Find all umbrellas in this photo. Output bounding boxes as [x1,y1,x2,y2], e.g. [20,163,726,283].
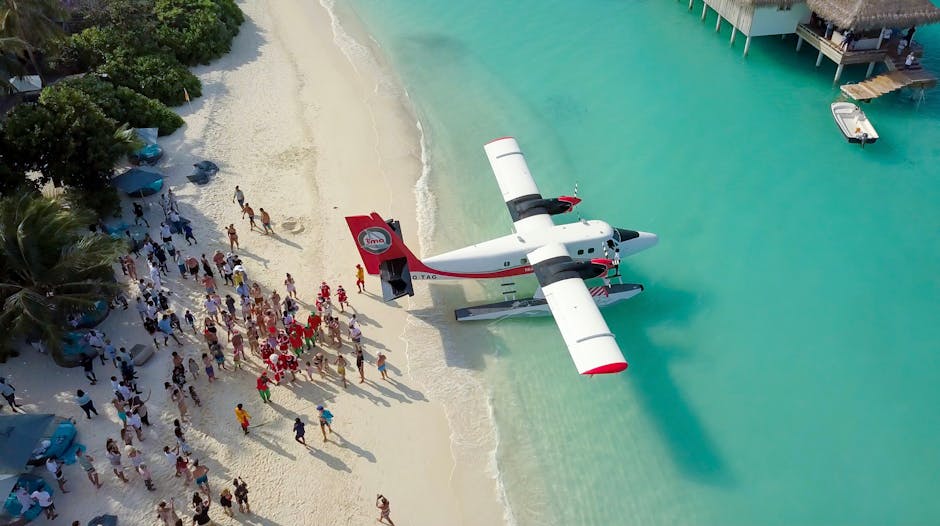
[0,408,58,476]
[135,129,169,164]
[107,167,168,211]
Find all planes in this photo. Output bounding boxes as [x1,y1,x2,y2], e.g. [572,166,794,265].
[345,137,658,373]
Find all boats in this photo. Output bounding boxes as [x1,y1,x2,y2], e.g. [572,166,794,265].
[832,98,879,147]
